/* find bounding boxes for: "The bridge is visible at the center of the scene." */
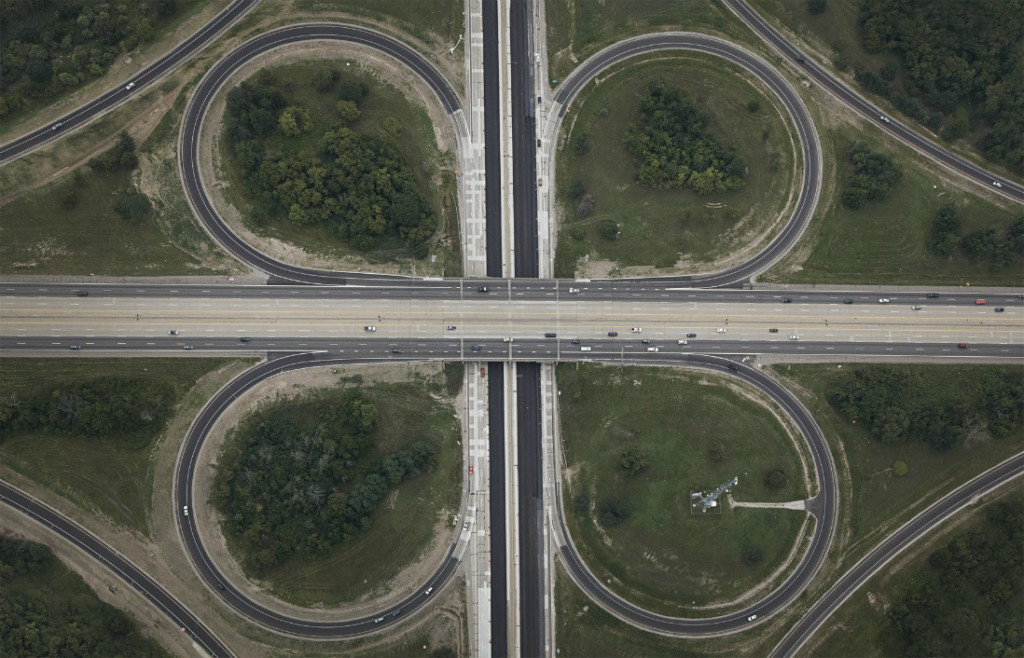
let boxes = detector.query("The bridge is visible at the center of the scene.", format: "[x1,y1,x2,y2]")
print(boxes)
[423,272,591,371]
